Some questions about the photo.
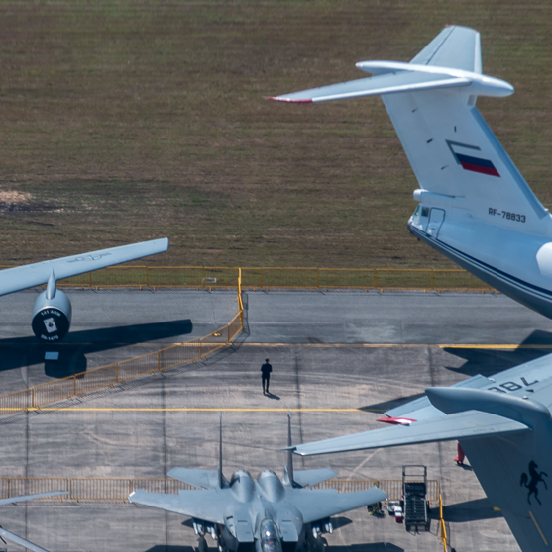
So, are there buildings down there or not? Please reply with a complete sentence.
No, I can't see a single building in this photo.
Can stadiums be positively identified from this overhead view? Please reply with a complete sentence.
No, no stadium is visible in the view.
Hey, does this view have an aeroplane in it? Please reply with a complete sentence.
Yes, the image includes an aeroplane.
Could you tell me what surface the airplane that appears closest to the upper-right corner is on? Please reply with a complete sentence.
In this view, the airplane that appears closest to the upper-right corner is located on the grass.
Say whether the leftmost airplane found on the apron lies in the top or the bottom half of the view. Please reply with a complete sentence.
You can find the leftmost airplane found on the apron in the bottom half.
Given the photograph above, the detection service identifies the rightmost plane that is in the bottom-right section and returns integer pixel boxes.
[274,382,552,552]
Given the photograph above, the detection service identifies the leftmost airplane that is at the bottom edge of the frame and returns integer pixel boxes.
[127,418,387,552]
